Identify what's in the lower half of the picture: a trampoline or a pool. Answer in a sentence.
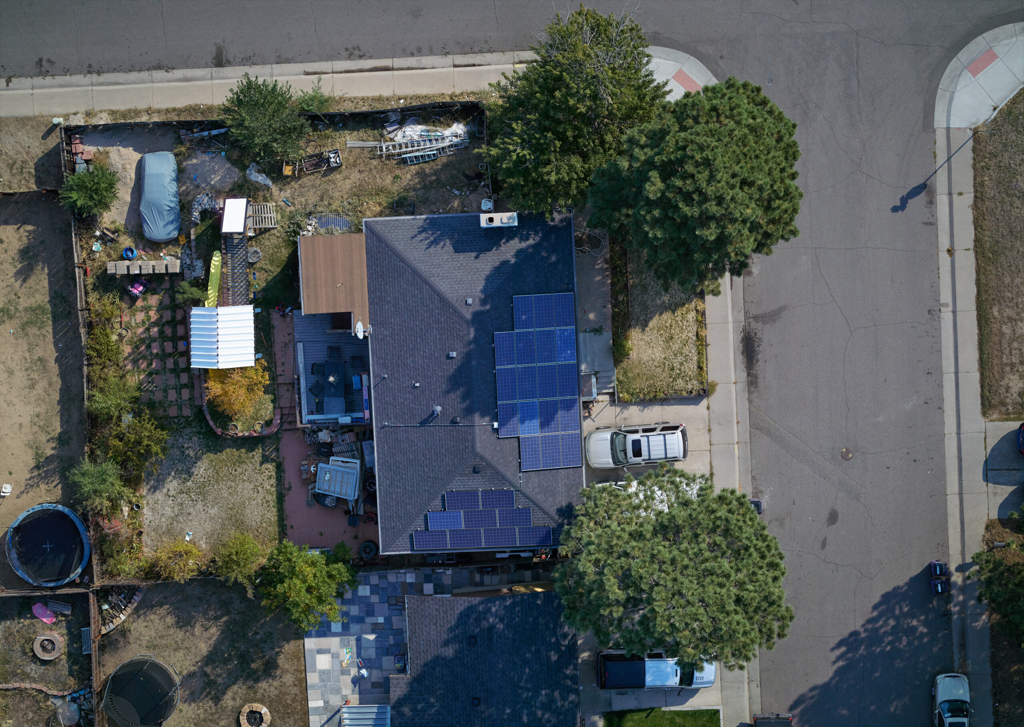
What appears in the lower half of the picture is a trampoline.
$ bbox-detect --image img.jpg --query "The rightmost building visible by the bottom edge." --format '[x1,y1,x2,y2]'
[388,581,581,727]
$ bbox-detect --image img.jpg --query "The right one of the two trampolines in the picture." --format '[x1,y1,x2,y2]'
[100,650,186,727]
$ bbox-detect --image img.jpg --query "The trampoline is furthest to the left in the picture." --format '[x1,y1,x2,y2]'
[6,503,90,587]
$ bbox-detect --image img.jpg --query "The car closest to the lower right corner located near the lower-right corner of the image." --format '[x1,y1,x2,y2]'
[930,671,976,727]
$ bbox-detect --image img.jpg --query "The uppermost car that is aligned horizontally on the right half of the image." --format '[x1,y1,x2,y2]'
[586,422,689,470]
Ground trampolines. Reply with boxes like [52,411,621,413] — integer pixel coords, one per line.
[100,650,186,727]
[6,503,90,587]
